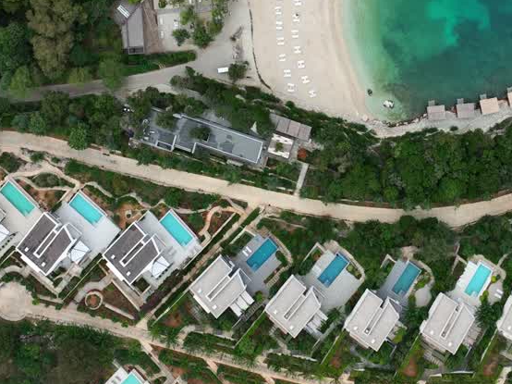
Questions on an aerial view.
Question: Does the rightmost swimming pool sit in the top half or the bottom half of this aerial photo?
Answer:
bottom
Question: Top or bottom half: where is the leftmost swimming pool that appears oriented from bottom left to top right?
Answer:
bottom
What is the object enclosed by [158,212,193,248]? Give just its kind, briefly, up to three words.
swimming pool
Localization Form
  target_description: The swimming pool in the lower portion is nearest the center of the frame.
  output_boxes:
[245,237,279,274]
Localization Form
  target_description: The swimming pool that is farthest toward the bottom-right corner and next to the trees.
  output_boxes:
[463,263,494,300]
